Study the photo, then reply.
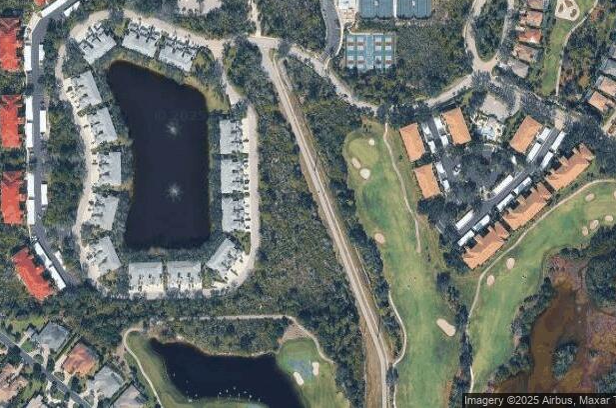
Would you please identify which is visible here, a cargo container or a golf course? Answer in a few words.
golf course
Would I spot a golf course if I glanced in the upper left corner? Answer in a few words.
No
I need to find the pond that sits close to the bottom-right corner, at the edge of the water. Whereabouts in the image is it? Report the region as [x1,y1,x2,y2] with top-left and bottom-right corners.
[488,293,597,408]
